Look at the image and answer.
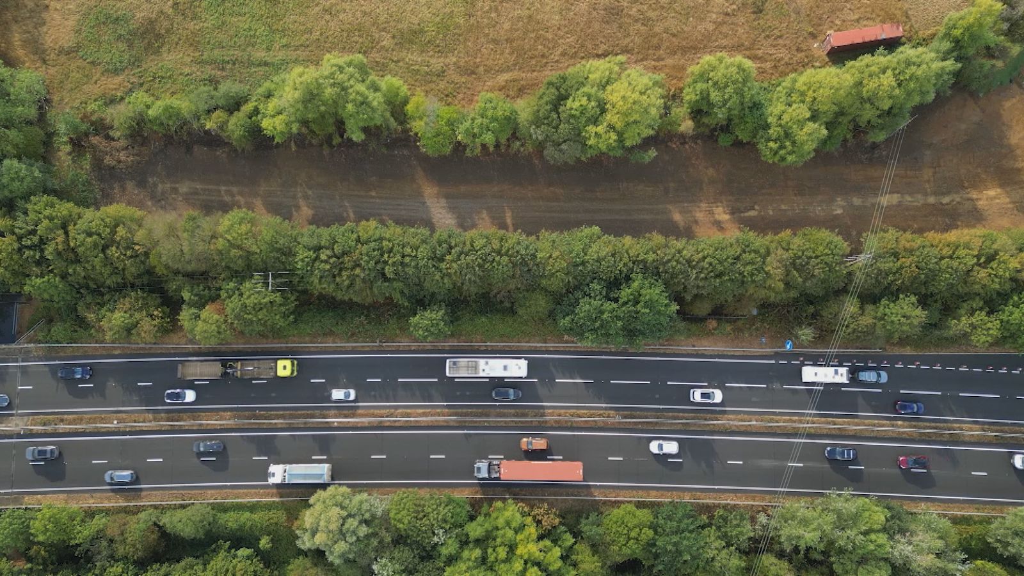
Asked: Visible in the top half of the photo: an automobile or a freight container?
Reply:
freight container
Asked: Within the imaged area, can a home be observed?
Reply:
No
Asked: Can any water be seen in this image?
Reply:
No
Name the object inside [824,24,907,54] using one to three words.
shipping container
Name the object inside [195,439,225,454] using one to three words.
car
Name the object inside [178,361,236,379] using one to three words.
trailer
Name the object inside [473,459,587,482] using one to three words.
truck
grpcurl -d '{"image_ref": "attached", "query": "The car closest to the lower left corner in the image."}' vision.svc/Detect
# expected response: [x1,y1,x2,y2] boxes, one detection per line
[27,446,62,461]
